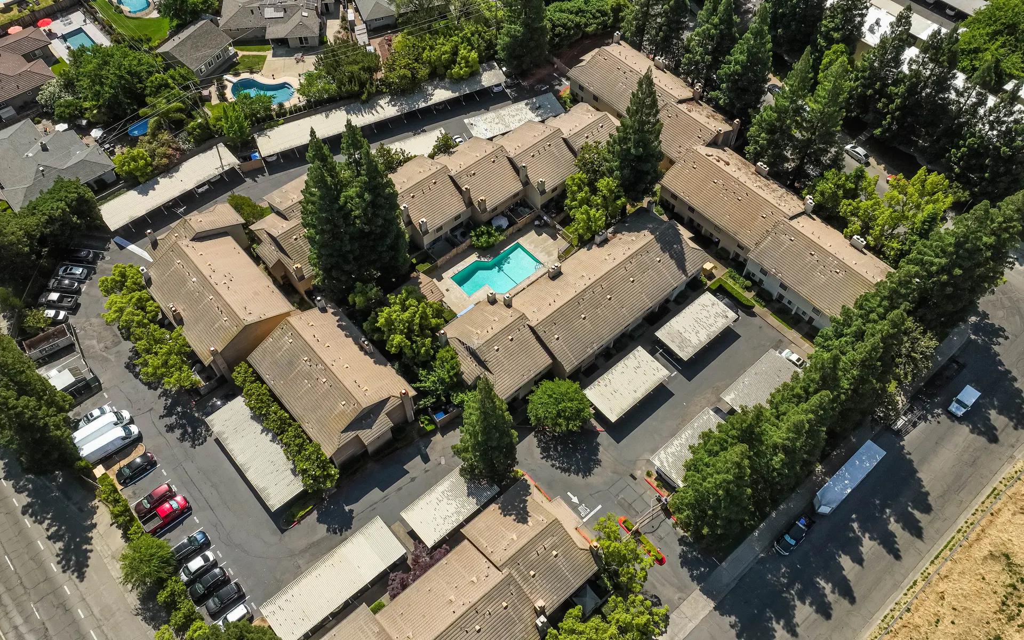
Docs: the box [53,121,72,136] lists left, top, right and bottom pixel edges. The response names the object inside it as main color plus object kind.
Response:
white umbrella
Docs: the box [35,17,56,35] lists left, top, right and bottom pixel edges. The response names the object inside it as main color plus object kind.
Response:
red umbrella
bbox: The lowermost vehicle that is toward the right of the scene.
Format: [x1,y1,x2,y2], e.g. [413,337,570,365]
[771,511,817,558]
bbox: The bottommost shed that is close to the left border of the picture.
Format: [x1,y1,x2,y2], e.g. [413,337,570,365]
[39,362,96,402]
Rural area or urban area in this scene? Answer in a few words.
urban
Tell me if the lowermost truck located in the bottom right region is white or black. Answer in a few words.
black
